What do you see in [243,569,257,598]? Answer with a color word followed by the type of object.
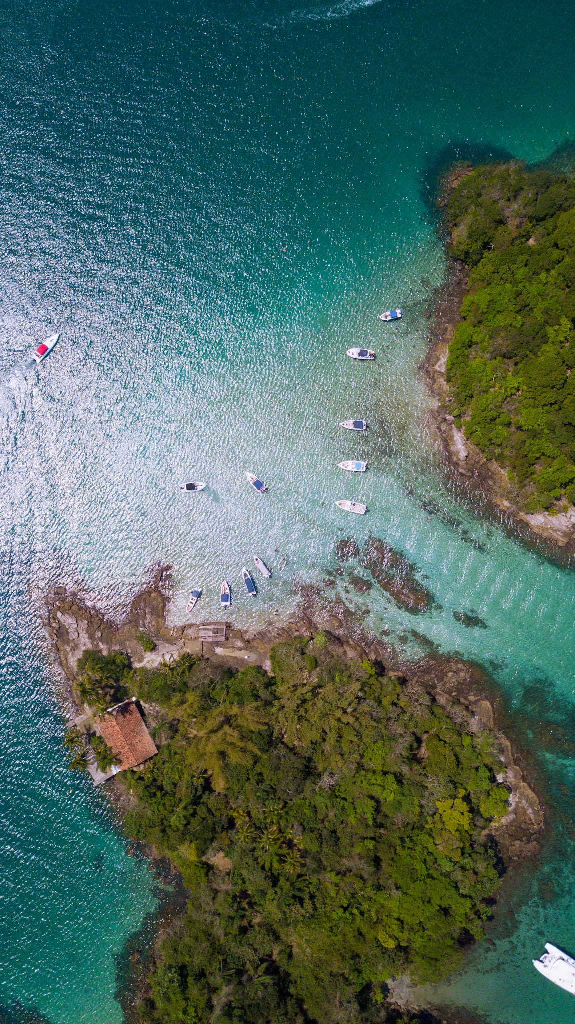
blue boat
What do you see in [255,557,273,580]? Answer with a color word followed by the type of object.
white boat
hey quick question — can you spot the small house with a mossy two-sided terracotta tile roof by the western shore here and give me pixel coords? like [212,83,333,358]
[95,694,158,770]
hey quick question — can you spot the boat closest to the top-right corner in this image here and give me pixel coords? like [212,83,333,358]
[380,307,404,320]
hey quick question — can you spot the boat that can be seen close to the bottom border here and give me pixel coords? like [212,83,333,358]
[533,938,575,1001]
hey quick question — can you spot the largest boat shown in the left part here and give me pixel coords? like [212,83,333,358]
[30,334,59,366]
